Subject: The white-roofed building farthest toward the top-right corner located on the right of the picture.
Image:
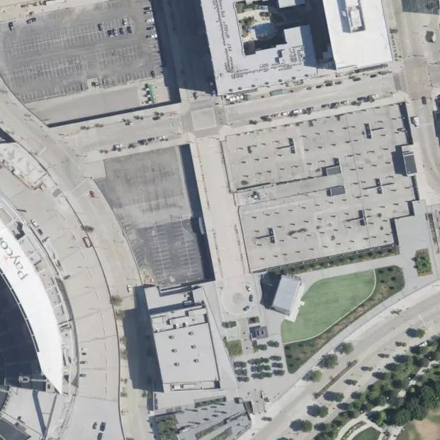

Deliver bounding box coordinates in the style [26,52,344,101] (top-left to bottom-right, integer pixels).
[324,0,393,71]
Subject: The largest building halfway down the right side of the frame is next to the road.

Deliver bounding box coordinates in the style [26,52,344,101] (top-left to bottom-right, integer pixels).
[222,103,432,274]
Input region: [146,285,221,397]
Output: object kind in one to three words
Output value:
building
